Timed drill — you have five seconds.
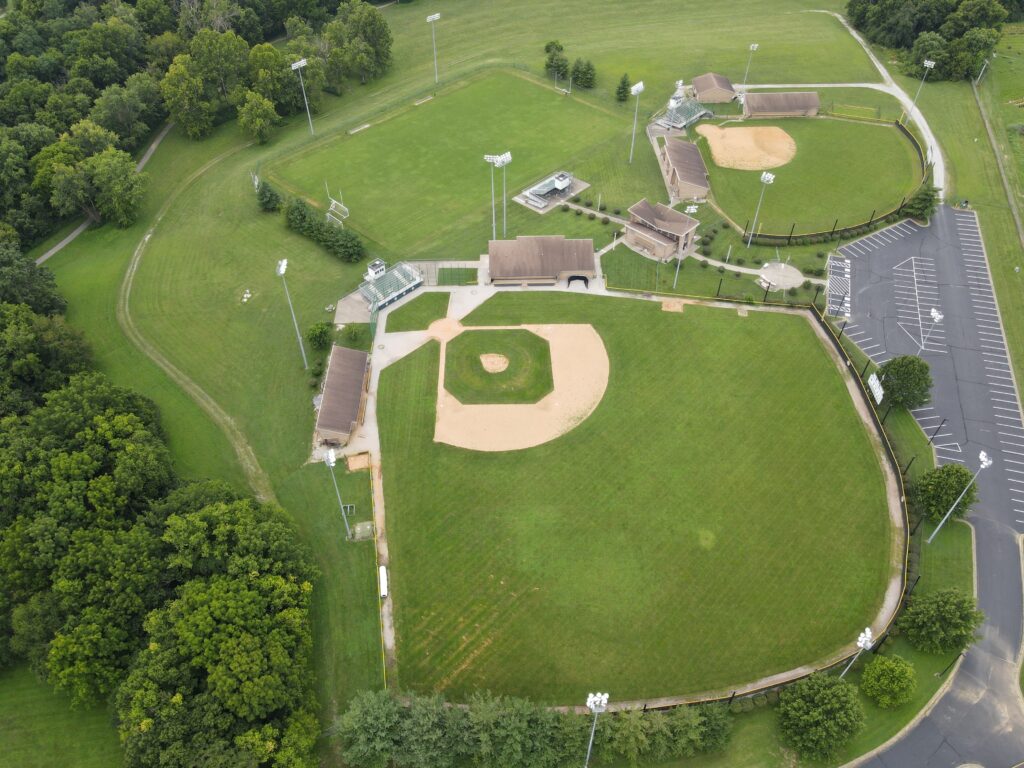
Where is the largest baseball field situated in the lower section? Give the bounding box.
[348,290,910,710]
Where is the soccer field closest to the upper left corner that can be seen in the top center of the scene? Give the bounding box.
[269,70,631,260]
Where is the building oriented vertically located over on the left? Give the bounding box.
[311,345,369,446]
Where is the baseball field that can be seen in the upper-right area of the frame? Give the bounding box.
[690,116,924,236]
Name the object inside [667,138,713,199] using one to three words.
building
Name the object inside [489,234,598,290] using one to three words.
building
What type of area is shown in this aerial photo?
sports ground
